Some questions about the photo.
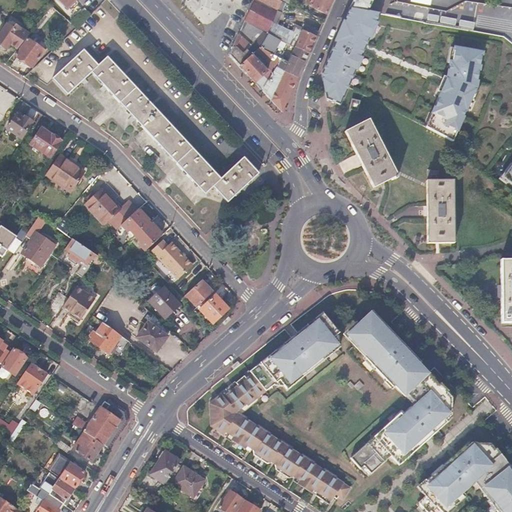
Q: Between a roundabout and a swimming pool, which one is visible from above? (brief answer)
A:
roundabout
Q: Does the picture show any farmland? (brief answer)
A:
No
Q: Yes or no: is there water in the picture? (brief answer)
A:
No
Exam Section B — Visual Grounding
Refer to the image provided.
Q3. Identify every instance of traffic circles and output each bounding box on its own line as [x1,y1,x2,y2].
[282,194,369,282]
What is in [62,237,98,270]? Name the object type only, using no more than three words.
house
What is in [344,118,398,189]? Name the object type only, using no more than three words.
building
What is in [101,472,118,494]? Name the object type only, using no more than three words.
vehicle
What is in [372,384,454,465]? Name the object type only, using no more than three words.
building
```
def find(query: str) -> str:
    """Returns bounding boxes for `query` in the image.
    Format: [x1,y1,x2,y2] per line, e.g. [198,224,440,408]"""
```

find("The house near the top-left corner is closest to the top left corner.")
[0,18,32,52]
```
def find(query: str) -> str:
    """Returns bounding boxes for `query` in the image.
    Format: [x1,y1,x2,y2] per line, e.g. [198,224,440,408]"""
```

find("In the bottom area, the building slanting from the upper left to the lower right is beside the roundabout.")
[344,310,446,402]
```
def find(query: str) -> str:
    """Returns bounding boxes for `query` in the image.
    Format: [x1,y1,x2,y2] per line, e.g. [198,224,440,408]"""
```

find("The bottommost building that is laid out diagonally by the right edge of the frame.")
[414,440,500,512]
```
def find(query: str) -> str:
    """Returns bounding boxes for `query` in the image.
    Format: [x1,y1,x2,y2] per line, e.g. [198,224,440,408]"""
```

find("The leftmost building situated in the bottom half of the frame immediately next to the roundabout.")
[262,312,344,390]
